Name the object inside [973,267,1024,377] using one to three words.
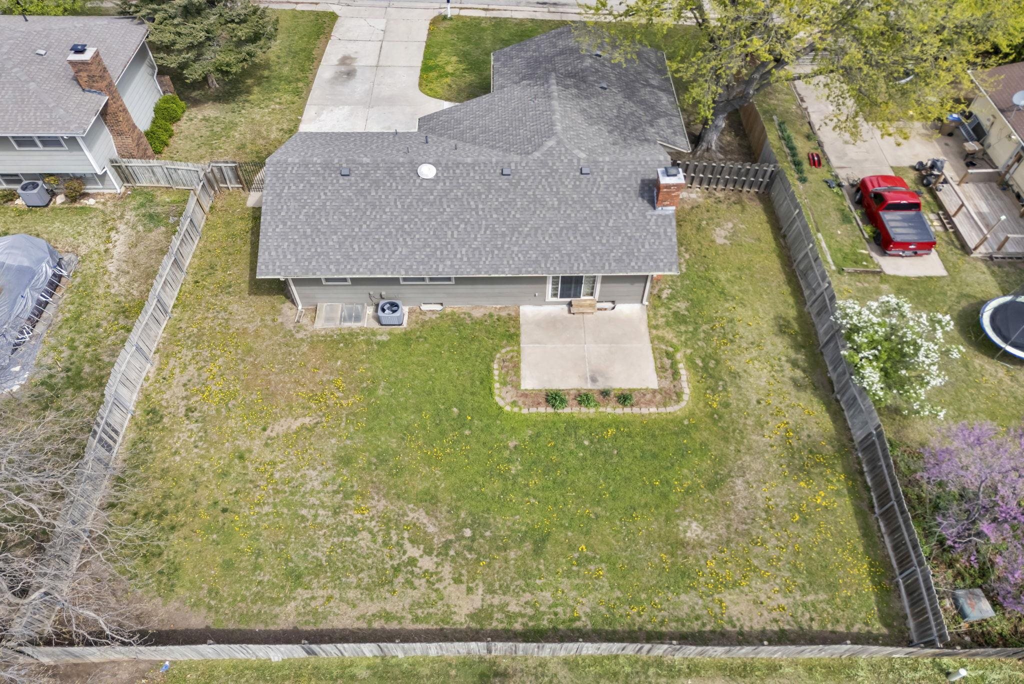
trampoline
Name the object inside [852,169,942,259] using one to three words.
truck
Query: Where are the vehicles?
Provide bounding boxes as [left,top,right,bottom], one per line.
[852,169,942,259]
[912,150,958,188]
